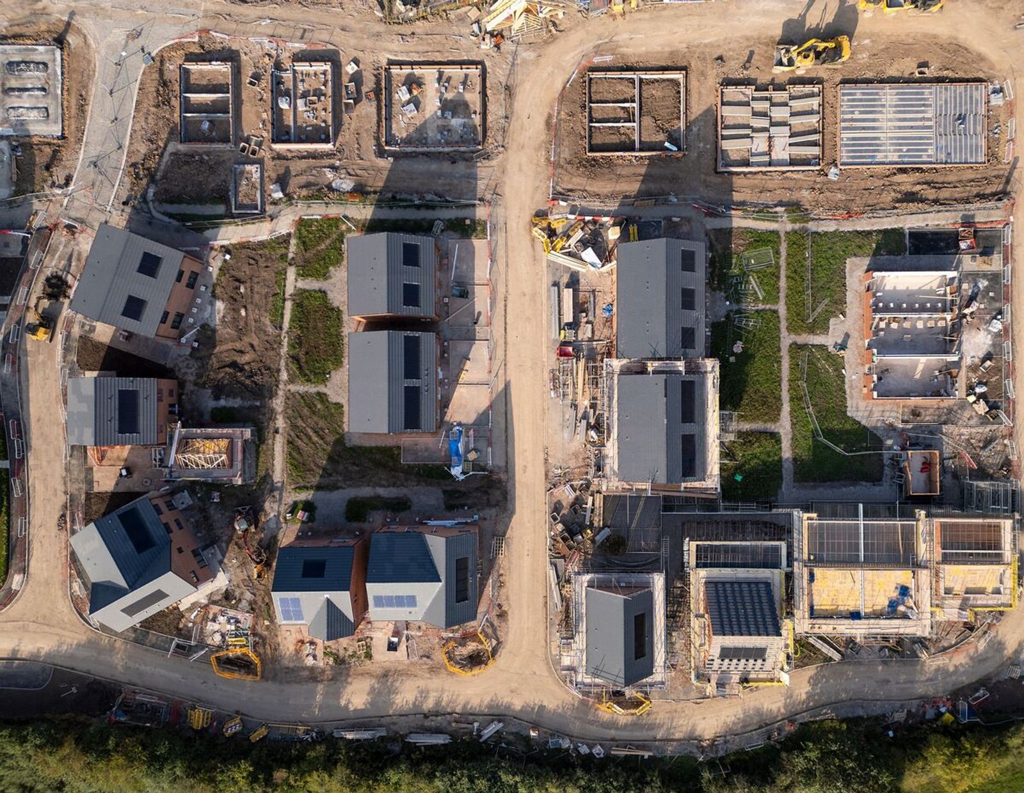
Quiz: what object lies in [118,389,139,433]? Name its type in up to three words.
solar array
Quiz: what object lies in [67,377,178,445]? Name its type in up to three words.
house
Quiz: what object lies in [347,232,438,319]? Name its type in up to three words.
house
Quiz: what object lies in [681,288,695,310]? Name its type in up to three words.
solar array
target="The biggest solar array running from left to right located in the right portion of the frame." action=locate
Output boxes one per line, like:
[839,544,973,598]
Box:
[719,646,767,659]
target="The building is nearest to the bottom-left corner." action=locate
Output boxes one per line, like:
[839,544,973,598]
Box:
[71,493,215,633]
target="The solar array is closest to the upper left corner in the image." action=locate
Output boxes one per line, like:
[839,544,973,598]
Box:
[137,251,162,278]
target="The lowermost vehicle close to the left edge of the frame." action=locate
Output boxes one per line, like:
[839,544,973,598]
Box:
[21,297,51,342]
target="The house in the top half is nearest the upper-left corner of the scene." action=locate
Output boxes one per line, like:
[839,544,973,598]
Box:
[71,223,202,339]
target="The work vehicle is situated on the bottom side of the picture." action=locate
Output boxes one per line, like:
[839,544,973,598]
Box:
[231,513,261,564]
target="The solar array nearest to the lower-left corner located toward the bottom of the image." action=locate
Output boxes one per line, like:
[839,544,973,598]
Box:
[120,589,169,617]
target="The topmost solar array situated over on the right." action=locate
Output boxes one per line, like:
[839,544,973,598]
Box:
[681,249,695,271]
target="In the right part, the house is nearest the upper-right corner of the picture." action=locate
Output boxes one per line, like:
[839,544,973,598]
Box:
[855,271,959,399]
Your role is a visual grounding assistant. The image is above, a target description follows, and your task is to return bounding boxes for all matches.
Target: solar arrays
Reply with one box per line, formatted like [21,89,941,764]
[118,506,156,554]
[404,336,420,378]
[279,598,304,621]
[403,244,419,266]
[719,646,767,659]
[681,381,695,423]
[118,389,139,433]
[302,560,326,577]
[404,386,420,428]
[137,251,162,278]
[681,327,695,349]
[681,288,695,310]
[681,249,695,271]
[122,295,146,322]
[120,589,169,617]
[682,434,696,476]
[403,283,420,306]
[635,613,645,659]
[373,595,417,608]
[456,558,470,602]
